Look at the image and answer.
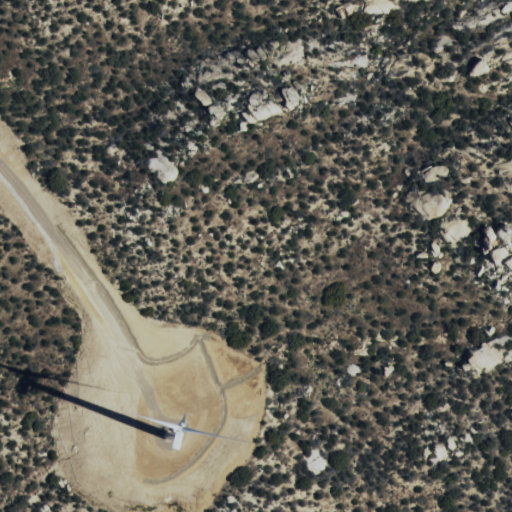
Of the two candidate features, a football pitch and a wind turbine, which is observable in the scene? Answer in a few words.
wind turbine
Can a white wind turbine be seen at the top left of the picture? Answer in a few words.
No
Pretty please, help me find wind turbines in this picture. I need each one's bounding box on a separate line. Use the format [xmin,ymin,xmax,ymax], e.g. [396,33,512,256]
[110,408,250,451]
